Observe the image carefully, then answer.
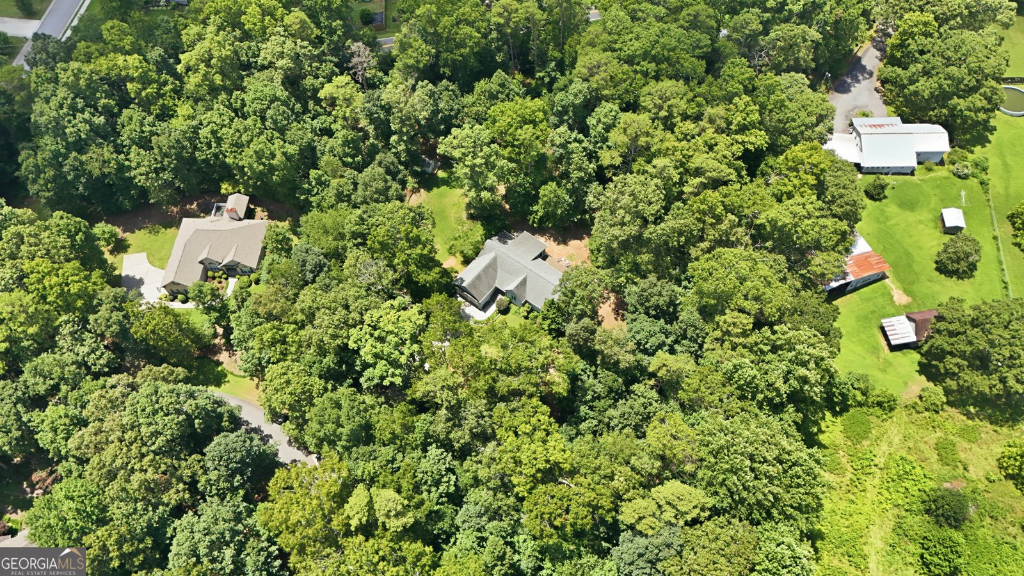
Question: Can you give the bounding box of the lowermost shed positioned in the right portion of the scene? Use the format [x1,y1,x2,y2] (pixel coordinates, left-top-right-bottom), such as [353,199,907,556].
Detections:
[876,308,949,351]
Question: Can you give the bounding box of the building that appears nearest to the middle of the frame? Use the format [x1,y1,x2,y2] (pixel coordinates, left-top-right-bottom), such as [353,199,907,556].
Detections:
[452,230,571,315]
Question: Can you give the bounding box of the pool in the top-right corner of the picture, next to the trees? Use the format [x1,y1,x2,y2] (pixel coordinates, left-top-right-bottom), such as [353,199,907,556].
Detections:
[994,85,1024,119]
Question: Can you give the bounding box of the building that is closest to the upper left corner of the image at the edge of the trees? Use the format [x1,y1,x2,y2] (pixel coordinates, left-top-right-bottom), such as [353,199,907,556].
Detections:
[161,192,269,294]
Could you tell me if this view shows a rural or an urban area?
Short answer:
rural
